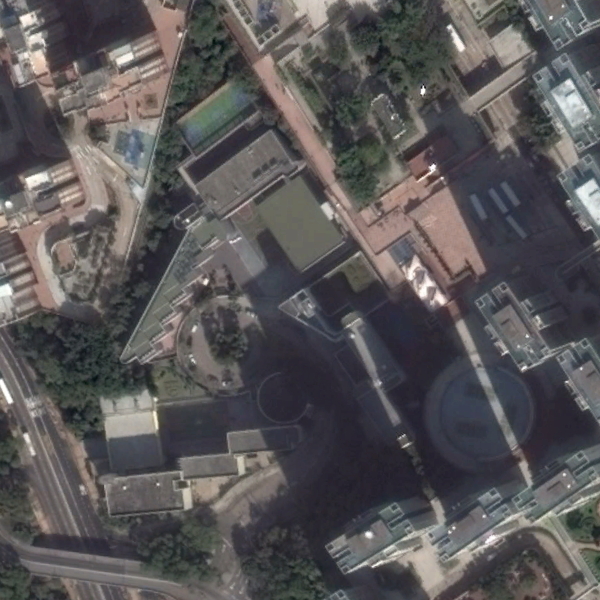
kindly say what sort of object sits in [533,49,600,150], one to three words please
building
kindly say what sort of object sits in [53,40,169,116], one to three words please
building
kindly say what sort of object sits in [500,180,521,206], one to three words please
bus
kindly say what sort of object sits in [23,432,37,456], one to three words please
vehicle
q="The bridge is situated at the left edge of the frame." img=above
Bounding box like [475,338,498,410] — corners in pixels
[0,527,227,600]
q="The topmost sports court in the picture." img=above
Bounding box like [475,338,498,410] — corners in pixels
[175,77,259,153]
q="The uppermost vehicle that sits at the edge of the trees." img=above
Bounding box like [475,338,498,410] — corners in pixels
[446,25,466,52]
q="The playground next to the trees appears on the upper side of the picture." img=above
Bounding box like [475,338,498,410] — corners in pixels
[113,128,154,178]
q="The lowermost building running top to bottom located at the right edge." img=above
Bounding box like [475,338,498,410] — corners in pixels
[557,333,600,427]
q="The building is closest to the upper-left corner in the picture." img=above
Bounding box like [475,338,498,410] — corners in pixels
[0,0,78,86]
